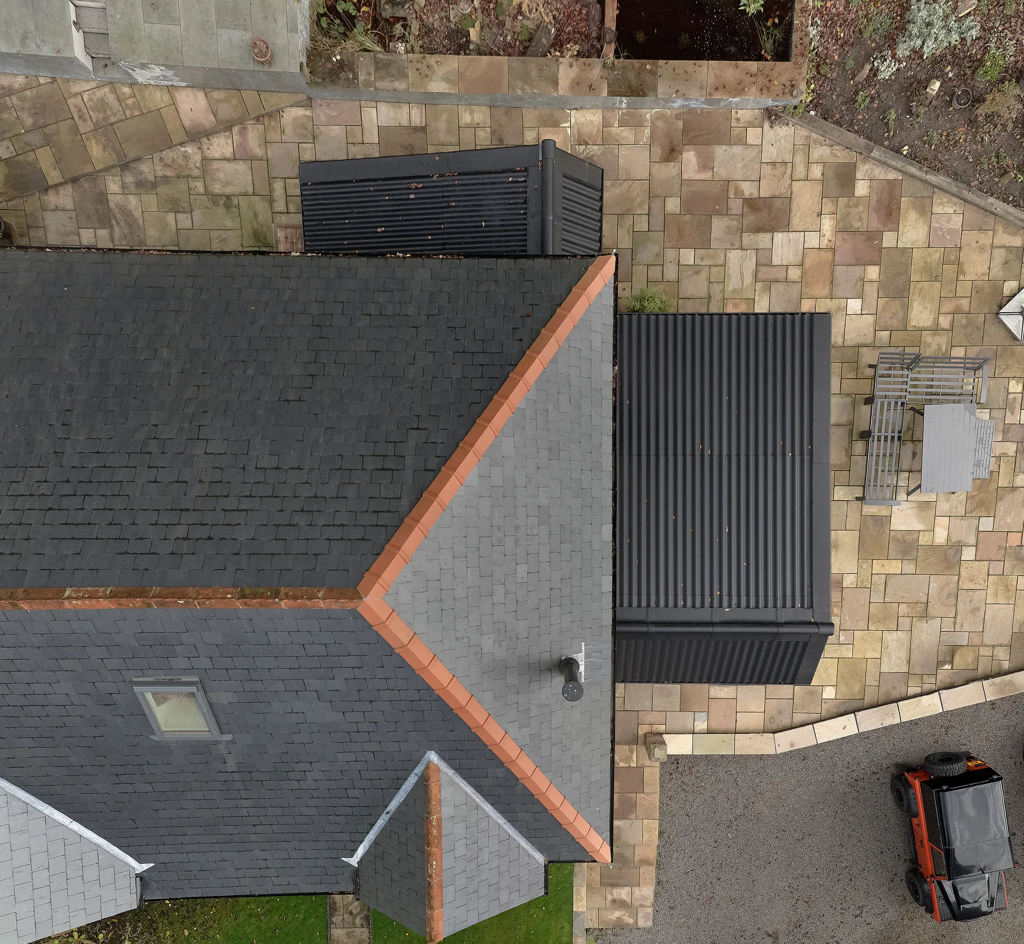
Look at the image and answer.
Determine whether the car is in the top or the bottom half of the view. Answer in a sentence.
The bottom half of the photo is where the car is.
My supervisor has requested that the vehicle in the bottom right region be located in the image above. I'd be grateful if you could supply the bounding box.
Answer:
[888,740,1024,924]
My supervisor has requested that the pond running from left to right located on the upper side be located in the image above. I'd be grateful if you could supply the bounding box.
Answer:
[615,0,791,62]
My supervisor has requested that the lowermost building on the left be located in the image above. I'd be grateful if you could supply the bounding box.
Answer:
[0,242,622,944]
